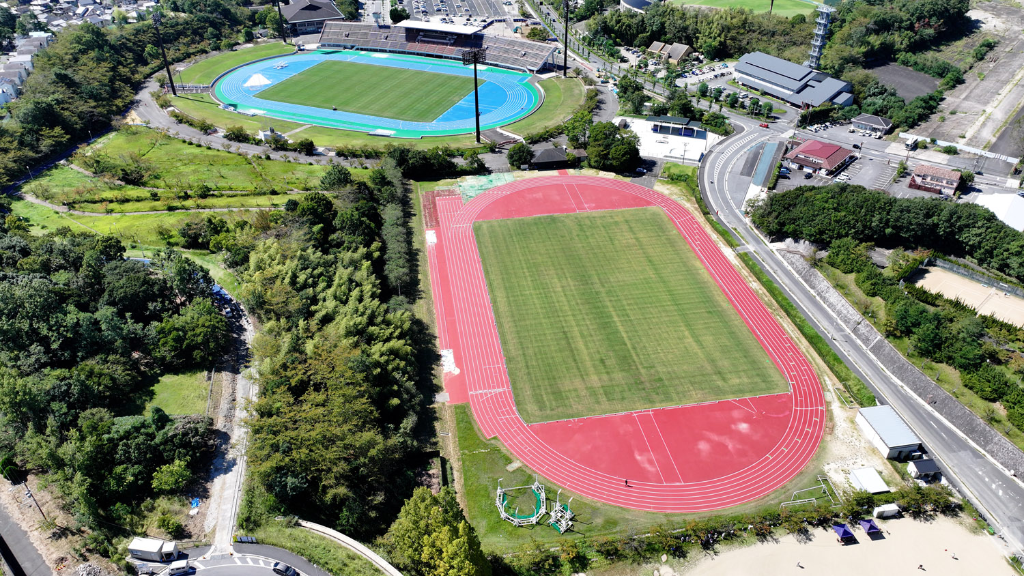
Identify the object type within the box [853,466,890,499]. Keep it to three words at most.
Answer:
shed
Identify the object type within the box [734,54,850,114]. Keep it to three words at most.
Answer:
building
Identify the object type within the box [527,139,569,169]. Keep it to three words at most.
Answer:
building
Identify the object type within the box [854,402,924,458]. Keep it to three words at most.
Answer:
shed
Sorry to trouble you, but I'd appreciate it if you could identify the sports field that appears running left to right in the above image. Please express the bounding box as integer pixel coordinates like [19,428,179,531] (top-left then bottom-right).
[254,60,485,122]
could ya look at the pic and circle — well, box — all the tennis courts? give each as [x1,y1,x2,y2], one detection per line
[904,266,1024,326]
